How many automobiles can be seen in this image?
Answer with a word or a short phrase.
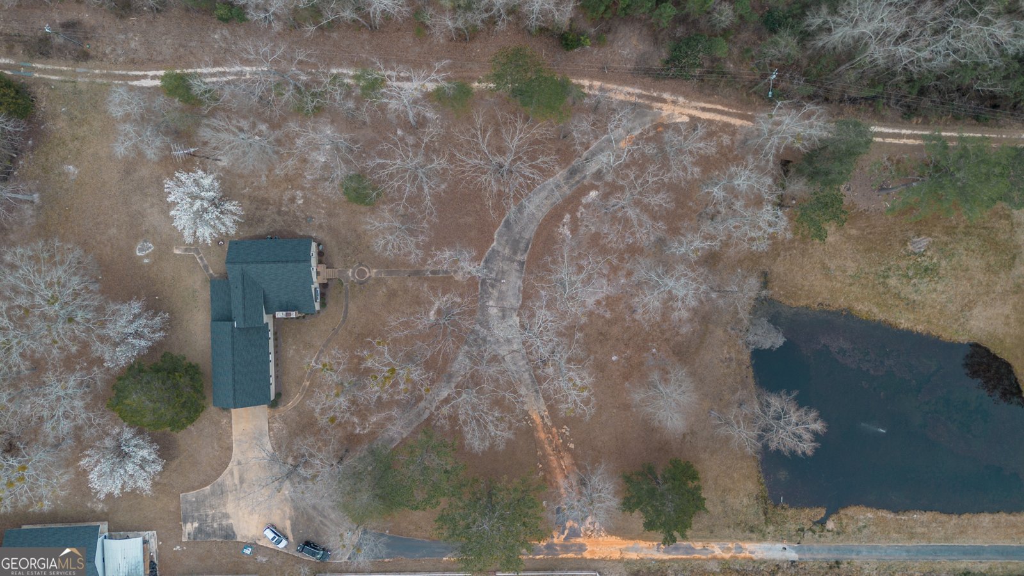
two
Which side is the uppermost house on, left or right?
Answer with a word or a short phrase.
left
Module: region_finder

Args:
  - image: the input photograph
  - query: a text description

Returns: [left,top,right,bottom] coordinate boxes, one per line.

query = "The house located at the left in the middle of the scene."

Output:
[211,239,342,409]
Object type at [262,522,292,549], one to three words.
car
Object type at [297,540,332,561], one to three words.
car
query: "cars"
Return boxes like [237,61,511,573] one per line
[262,522,292,549]
[297,540,332,561]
